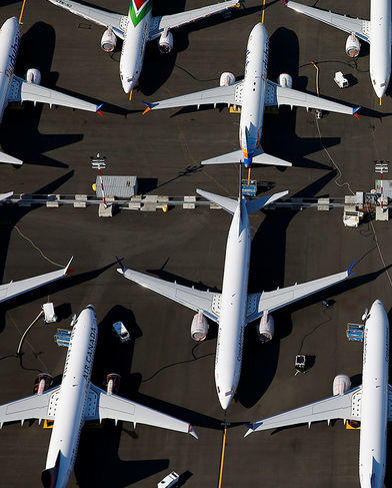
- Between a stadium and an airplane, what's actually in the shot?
airplane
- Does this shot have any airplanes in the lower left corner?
Yes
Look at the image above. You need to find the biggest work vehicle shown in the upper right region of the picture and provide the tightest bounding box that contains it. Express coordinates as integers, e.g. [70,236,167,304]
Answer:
[332,73,350,91]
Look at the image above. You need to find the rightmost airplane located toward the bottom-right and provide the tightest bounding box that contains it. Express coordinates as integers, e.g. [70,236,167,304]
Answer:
[243,300,392,488]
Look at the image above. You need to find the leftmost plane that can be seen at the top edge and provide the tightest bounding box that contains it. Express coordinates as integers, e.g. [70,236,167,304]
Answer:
[0,22,101,130]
